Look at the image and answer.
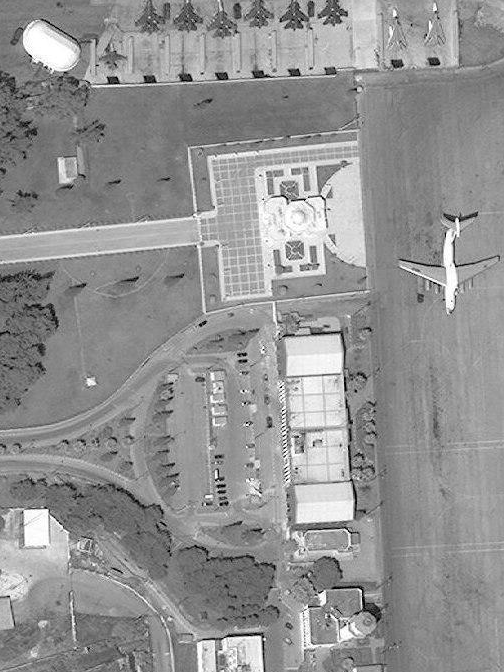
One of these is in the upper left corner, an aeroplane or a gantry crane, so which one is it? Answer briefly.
aeroplane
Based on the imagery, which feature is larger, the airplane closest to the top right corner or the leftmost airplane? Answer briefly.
the airplane closest to the top right corner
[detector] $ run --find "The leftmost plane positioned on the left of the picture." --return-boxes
[97,42,128,69]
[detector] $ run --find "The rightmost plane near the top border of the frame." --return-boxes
[421,3,452,45]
